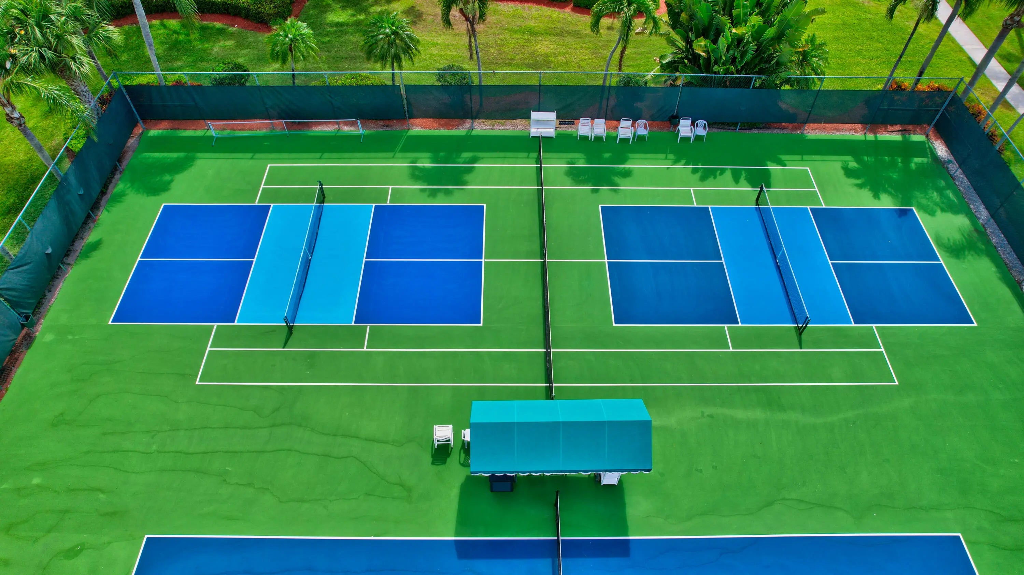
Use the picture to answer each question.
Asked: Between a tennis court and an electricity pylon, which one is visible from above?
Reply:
tennis court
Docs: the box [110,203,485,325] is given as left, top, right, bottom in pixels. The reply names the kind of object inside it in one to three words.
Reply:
sports court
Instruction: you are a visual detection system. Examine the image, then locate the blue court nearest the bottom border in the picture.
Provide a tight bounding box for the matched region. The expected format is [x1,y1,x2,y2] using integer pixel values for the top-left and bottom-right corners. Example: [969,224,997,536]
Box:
[134,535,978,575]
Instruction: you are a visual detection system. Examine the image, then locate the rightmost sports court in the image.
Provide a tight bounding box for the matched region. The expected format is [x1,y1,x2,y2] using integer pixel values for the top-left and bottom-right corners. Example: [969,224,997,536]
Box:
[598,205,978,327]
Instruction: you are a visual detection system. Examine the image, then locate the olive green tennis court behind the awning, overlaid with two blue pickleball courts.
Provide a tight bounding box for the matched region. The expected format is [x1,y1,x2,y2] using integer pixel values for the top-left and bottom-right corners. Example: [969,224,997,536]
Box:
[197,165,898,385]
